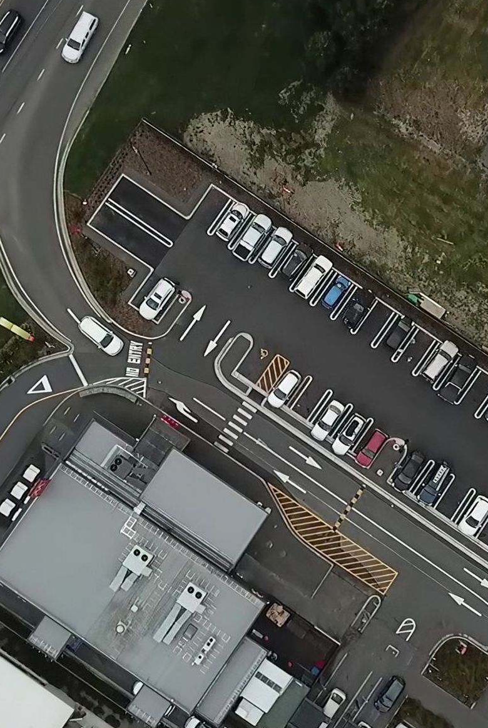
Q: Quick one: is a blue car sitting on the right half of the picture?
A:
Yes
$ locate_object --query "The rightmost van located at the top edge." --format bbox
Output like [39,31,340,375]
[63,8,100,64]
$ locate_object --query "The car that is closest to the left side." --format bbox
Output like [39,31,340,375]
[0,7,25,59]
